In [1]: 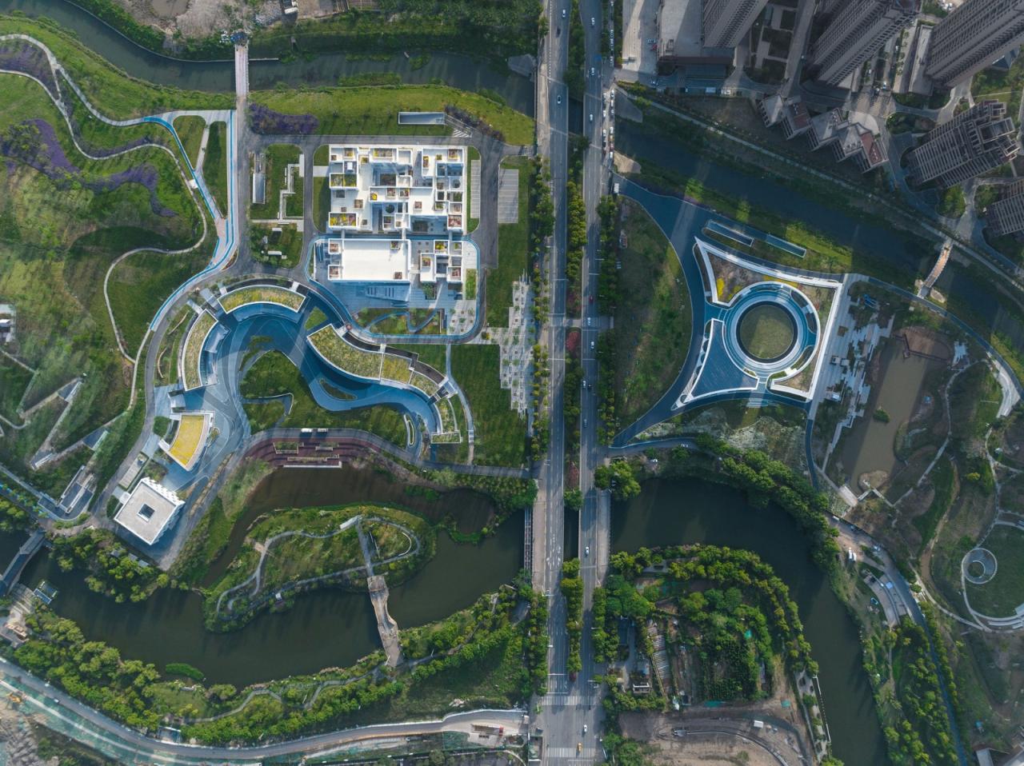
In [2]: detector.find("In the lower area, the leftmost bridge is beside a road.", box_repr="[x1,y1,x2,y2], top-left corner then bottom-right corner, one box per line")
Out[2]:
[533,489,564,570]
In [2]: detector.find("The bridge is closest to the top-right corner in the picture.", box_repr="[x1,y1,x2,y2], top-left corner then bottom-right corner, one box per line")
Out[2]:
[582,72,616,149]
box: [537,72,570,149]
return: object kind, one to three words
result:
bridge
